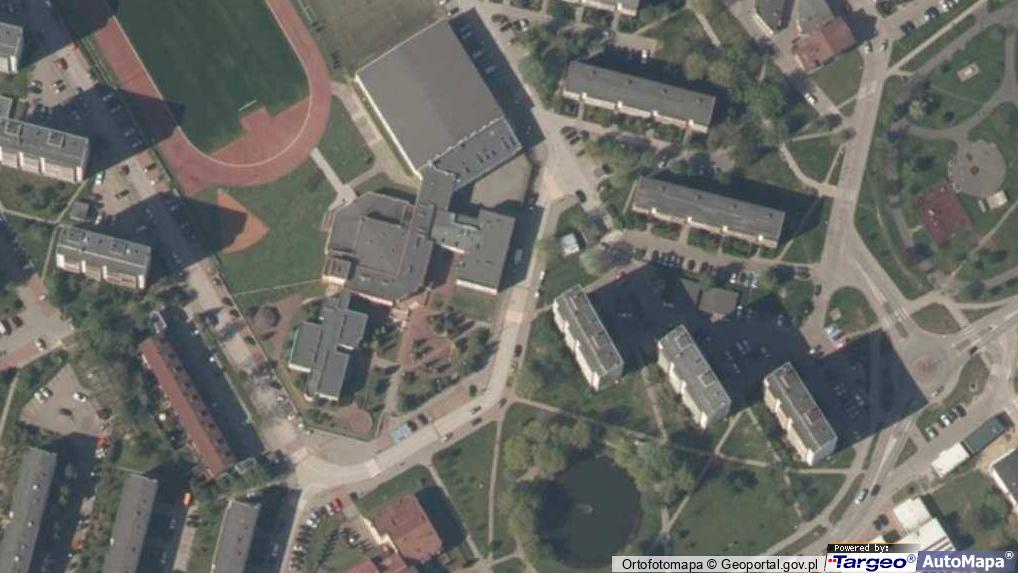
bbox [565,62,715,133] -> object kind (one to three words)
building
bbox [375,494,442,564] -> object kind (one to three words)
house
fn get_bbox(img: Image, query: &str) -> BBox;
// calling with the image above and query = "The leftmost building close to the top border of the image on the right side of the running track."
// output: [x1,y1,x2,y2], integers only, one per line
[357,21,504,177]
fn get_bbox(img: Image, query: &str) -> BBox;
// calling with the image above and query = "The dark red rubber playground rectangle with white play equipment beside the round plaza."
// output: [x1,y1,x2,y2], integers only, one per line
[915,181,972,247]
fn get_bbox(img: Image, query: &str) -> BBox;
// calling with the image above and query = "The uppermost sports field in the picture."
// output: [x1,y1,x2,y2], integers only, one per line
[305,0,446,76]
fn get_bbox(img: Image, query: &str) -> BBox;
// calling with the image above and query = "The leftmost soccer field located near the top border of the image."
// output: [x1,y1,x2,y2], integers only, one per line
[105,0,309,153]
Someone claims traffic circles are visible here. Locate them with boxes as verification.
[890,331,962,403]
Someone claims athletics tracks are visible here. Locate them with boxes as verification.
[77,0,332,195]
